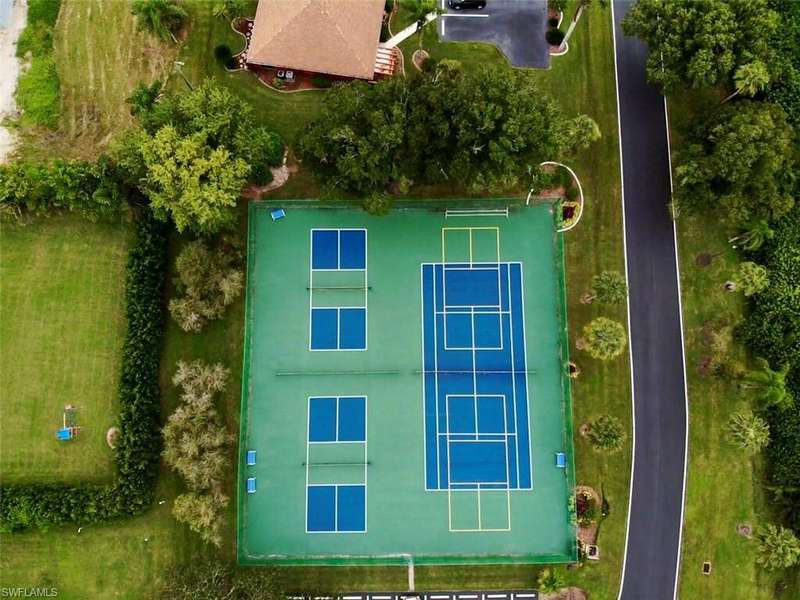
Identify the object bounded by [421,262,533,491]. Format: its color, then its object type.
blue tennis court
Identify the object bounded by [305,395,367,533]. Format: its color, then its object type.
blue sports court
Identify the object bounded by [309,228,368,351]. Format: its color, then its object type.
blue sports court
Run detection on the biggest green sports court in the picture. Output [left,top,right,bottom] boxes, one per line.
[246,206,568,558]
